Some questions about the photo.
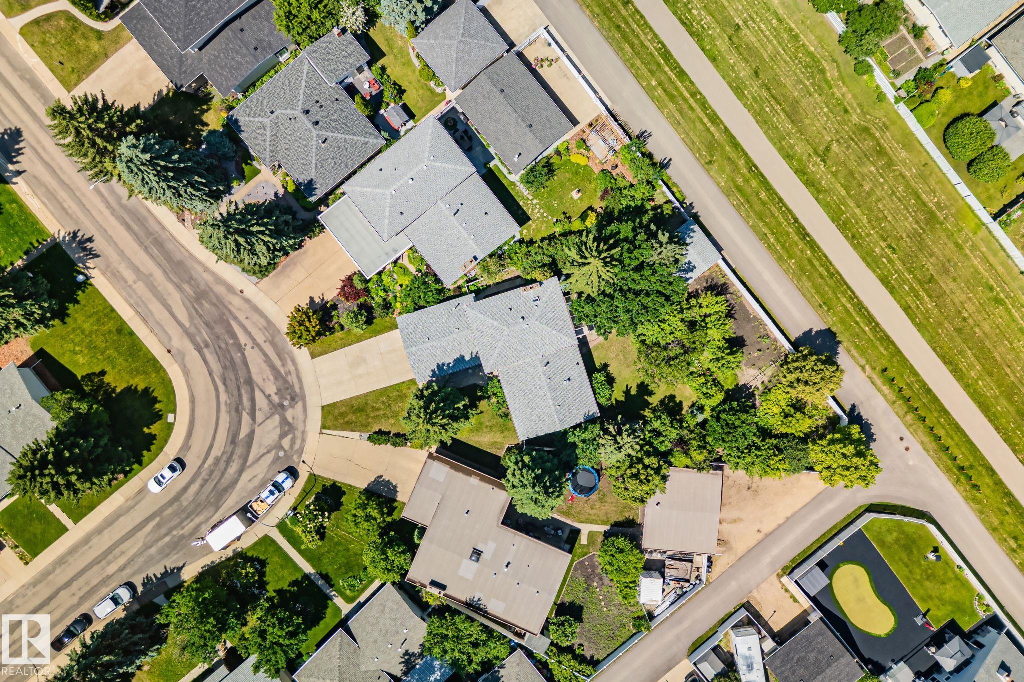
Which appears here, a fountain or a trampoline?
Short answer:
trampoline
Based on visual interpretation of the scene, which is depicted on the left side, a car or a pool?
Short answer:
car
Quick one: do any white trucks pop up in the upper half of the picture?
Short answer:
No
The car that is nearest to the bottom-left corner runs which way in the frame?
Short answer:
at an angle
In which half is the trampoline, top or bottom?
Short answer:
bottom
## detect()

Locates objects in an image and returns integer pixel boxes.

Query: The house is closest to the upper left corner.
[118,0,291,101]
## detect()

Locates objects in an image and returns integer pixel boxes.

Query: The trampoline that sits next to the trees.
[570,466,602,501]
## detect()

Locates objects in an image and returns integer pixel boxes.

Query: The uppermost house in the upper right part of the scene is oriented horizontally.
[903,0,1021,54]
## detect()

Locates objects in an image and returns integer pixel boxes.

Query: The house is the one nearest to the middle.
[399,276,601,441]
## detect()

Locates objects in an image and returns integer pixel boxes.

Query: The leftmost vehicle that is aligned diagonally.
[46,617,87,653]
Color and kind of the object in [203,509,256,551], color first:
white trailer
